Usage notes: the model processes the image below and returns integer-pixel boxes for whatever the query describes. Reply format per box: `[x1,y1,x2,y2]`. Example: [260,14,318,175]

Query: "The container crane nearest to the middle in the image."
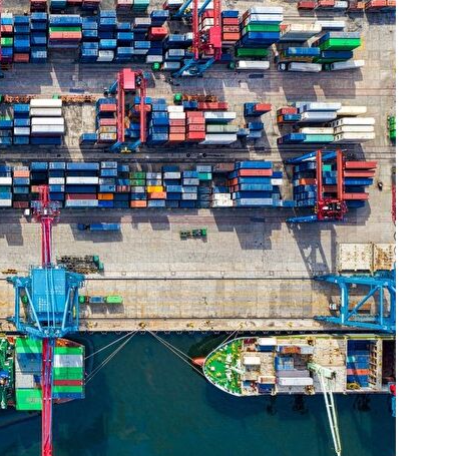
[282,151,345,224]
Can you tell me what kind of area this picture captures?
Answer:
port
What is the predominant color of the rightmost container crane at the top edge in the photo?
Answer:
red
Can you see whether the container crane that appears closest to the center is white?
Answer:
No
